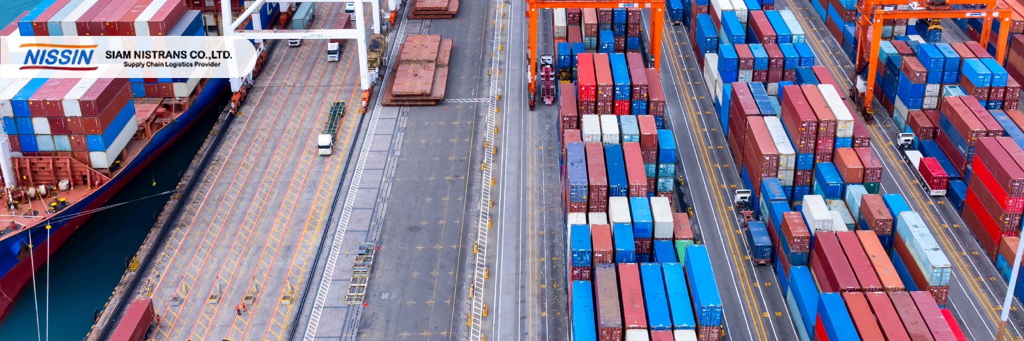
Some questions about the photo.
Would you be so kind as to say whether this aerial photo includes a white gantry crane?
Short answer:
Yes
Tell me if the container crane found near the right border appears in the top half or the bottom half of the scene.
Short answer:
top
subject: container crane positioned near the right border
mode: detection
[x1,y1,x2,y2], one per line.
[844,0,1013,120]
